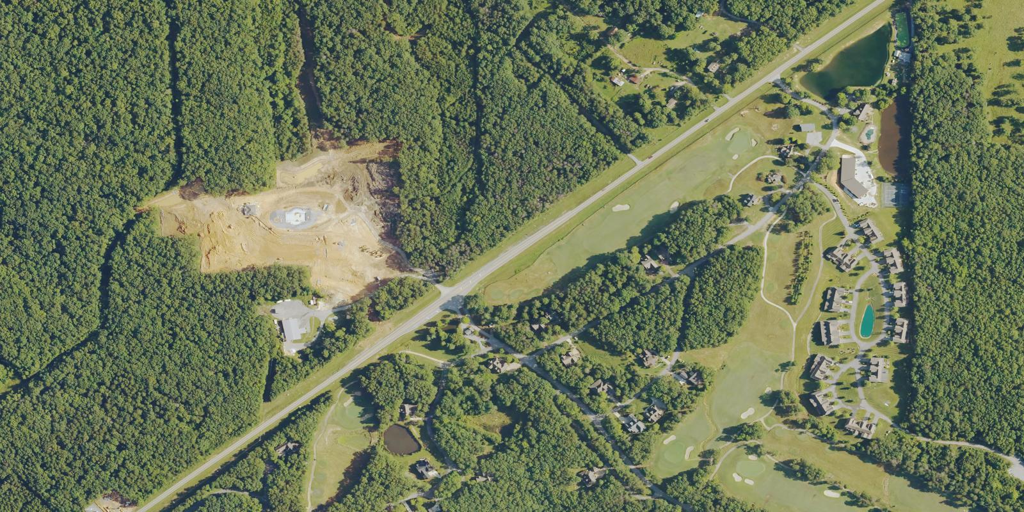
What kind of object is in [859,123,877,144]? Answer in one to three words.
swimming pool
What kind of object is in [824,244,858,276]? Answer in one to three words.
house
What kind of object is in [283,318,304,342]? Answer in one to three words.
building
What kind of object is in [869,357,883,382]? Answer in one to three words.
house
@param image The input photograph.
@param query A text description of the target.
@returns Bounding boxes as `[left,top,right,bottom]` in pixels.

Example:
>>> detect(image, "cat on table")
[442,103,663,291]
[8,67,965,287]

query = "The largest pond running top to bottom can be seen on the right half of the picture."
[879,101,911,175]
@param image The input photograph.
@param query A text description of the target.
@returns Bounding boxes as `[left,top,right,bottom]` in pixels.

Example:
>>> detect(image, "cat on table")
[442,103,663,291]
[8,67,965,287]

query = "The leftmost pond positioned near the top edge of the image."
[800,22,891,97]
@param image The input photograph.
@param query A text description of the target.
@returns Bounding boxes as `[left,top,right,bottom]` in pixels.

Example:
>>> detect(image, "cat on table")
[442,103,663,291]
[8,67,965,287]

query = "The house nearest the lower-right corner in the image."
[847,415,875,437]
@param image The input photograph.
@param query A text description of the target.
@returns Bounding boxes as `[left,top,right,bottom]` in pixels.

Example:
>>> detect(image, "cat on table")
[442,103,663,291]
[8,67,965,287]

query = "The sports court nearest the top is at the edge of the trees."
[882,183,909,207]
